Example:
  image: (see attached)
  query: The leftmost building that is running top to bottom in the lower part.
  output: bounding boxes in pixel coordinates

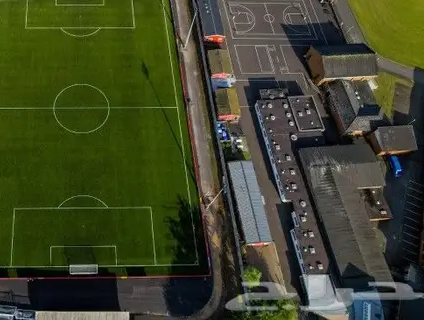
[227,161,274,245]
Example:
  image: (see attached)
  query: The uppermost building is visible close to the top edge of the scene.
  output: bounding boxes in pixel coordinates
[196,0,224,40]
